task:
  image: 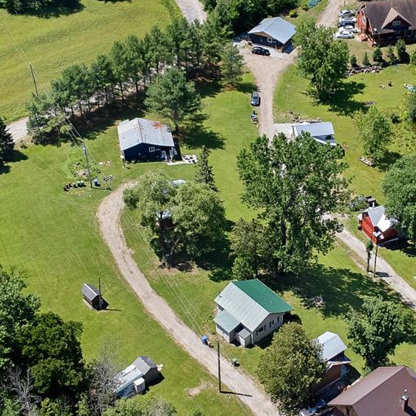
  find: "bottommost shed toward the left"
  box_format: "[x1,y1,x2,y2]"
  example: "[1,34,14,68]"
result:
[131,355,170,389]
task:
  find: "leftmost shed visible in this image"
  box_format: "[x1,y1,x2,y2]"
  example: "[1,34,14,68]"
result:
[79,283,103,310]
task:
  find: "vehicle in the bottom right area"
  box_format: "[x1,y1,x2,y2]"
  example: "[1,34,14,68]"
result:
[296,397,330,416]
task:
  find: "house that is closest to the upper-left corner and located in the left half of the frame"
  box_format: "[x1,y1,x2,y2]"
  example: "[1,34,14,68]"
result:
[117,117,173,161]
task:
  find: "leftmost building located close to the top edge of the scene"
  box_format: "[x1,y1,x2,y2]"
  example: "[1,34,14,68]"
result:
[247,17,298,51]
